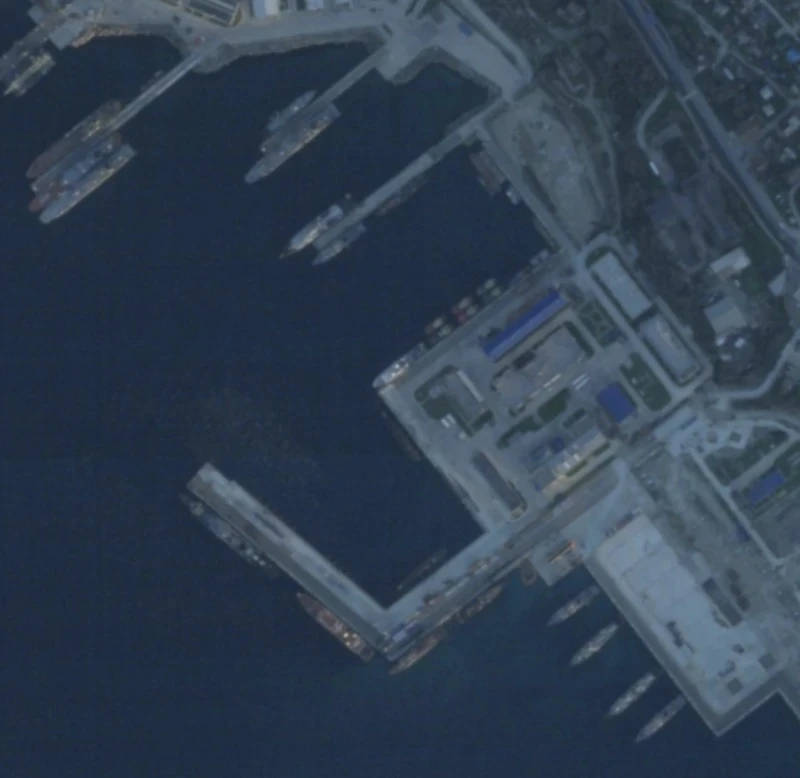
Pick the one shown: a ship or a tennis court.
ship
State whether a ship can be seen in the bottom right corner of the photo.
Yes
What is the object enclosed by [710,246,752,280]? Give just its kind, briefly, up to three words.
building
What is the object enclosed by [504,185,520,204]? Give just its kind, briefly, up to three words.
boat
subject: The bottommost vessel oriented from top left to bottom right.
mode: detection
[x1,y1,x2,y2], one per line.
[297,594,378,666]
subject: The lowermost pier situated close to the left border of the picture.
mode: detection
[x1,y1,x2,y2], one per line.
[34,52,202,190]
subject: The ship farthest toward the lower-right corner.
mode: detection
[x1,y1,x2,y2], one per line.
[637,694,688,743]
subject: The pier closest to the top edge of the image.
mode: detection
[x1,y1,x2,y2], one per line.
[0,20,58,74]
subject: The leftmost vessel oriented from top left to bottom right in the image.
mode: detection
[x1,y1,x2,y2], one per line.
[177,491,284,583]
